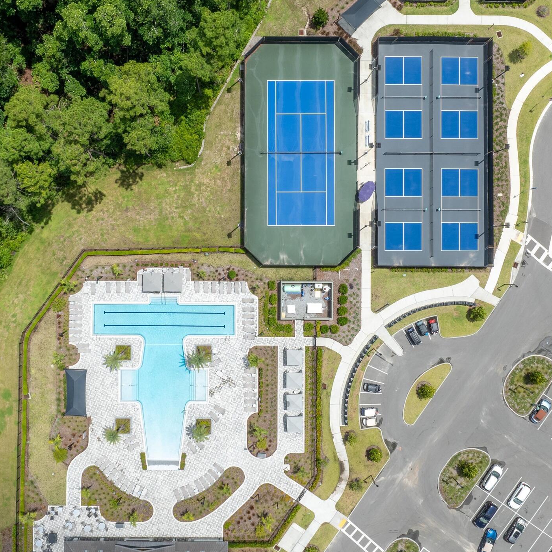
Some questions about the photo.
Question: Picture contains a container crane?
No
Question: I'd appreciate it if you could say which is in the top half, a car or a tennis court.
tennis court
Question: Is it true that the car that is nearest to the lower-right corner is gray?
Yes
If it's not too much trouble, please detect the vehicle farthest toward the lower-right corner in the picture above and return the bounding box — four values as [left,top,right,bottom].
[505,519,529,547]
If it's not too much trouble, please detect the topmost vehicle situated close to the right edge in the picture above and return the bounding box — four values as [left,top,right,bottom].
[531,398,552,425]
